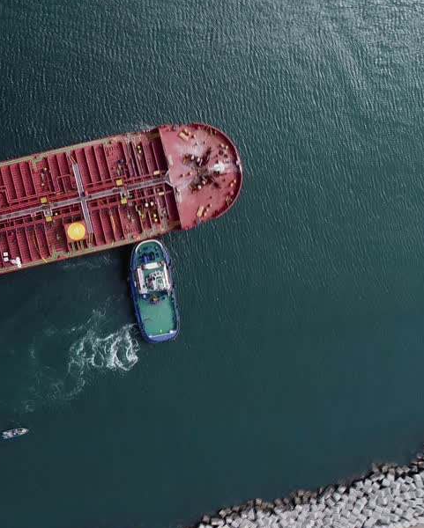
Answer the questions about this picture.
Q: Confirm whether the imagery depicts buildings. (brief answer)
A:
No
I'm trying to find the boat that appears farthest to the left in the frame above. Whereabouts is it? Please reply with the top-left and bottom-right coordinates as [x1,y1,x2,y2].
[0,428,28,440]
